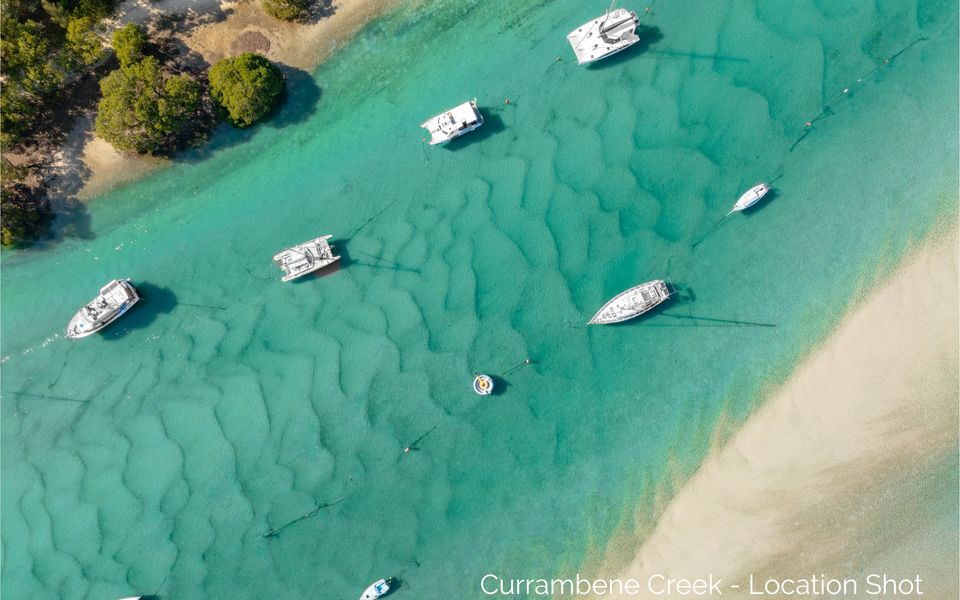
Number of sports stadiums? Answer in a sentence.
No sports stadiums are visible.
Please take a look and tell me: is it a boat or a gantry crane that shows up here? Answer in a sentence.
There is a boat in the scene.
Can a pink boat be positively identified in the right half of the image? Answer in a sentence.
No, in the right half of the image there is no pink boat.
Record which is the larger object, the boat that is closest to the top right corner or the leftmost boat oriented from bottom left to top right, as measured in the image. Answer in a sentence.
Of the two, the leftmost boat oriented from bottom left to top right is larger and the boat that is closest to the top right corner is the smaller one.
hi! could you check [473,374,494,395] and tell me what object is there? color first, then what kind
white boat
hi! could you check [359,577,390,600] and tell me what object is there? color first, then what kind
white boat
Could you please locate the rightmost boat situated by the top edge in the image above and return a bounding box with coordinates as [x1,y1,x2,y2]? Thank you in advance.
[566,0,643,68]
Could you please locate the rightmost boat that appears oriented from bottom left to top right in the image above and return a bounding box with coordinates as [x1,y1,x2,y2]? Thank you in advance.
[728,183,769,216]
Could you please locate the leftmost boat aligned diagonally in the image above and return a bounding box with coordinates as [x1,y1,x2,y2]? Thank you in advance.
[62,278,148,340]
